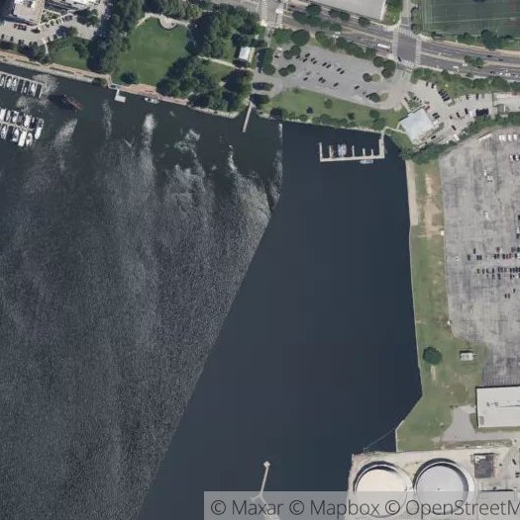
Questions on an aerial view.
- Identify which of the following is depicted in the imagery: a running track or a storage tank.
storage tank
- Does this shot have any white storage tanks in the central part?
No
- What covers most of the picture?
water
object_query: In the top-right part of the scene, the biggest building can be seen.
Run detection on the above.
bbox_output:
[399,109,435,144]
